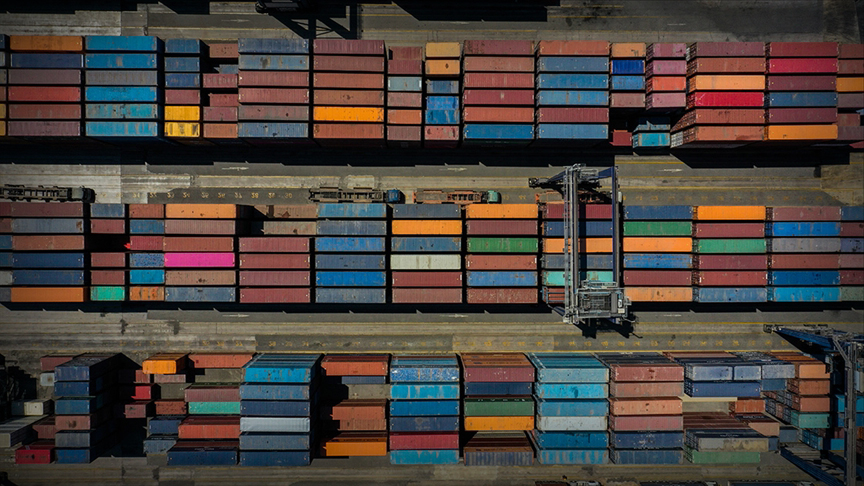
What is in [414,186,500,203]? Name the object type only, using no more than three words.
vehicle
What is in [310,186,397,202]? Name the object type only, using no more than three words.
vehicle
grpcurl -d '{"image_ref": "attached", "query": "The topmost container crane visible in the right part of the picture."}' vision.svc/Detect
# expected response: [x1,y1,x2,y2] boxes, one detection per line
[526,164,633,329]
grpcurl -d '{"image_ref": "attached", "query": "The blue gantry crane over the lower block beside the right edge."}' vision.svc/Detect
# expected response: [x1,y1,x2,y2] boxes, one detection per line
[759,323,864,486]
